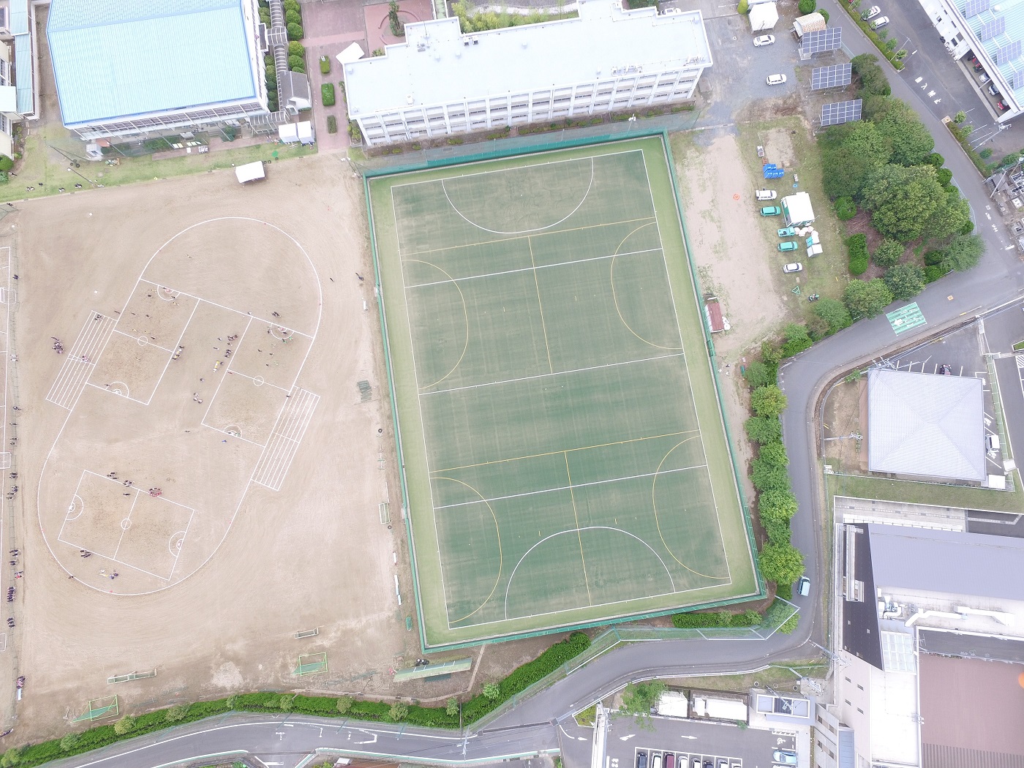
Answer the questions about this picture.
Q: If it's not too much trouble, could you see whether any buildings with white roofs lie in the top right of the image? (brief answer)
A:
Yes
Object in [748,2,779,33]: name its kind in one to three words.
building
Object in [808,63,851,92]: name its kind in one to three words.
solar array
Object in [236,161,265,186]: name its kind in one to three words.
tent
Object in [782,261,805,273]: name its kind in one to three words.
vehicle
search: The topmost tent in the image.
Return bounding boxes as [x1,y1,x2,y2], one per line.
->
[337,43,366,64]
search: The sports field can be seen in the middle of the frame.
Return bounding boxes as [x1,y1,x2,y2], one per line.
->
[368,134,761,651]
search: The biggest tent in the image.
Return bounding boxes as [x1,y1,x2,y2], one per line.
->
[776,191,814,229]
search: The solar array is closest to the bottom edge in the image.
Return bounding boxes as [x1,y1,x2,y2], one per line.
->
[818,99,862,128]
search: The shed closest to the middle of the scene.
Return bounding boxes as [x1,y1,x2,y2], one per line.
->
[706,302,724,333]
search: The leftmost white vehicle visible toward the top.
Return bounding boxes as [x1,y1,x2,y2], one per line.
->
[660,4,678,16]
